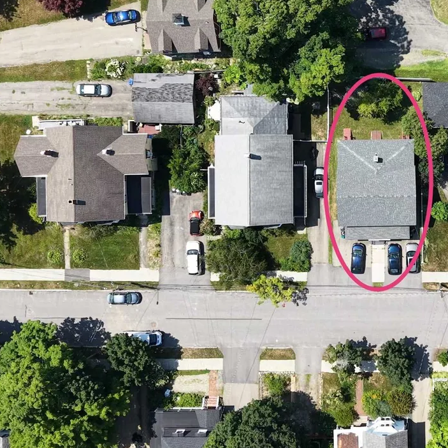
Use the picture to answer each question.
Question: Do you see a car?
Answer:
Yes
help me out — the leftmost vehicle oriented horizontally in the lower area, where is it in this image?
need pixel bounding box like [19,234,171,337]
[108,290,142,306]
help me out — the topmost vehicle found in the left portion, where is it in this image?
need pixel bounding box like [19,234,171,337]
[105,10,140,26]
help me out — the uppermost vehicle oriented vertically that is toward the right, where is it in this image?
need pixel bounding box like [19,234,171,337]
[312,166,326,198]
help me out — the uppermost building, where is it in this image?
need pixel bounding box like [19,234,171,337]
[145,0,222,54]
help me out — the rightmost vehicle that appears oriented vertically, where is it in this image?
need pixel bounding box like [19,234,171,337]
[406,243,419,274]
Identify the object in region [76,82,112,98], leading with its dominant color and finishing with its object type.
white car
